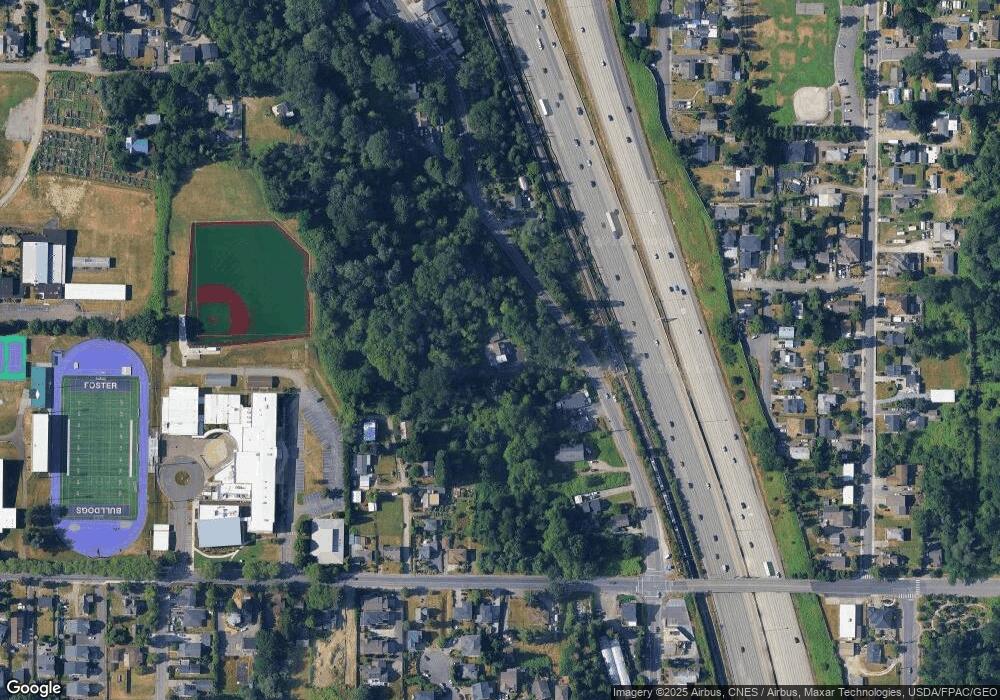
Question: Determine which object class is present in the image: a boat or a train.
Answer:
train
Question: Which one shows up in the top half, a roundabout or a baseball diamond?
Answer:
baseball diamond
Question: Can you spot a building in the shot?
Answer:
Yes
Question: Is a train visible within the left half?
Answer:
No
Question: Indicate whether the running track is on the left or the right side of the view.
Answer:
left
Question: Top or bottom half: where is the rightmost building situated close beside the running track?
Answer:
bottom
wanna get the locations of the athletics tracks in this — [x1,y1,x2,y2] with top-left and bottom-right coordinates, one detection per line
[52,337,150,557]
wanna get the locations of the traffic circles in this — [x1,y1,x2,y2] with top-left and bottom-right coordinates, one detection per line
[159,456,204,501]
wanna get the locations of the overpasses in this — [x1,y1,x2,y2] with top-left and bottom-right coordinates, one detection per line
[684,577,807,593]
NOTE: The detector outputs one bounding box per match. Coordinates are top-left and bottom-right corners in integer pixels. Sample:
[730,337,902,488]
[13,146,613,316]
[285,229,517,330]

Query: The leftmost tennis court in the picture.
[0,337,27,381]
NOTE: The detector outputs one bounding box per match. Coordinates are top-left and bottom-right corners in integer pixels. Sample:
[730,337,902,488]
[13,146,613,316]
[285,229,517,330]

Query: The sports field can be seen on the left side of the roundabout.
[60,375,139,519]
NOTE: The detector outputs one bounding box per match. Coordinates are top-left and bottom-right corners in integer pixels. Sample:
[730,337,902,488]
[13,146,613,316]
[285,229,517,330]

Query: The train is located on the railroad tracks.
[650,457,688,562]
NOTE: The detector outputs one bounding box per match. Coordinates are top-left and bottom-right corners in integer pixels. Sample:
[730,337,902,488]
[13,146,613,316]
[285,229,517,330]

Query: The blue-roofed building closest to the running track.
[31,367,46,408]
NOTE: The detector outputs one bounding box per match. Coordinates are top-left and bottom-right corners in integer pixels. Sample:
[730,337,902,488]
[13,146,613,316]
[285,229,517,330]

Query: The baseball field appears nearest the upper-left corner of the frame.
[188,221,311,347]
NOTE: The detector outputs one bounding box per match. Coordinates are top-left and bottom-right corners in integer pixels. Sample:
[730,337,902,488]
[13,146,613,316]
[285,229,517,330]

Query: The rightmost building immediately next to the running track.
[162,387,279,547]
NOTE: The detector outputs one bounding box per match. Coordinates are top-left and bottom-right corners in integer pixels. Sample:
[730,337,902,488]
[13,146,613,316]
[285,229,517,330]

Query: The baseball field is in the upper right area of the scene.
[793,88,829,125]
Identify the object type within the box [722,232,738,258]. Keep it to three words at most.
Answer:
house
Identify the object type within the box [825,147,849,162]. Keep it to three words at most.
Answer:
house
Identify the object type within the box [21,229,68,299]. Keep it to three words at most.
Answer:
building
